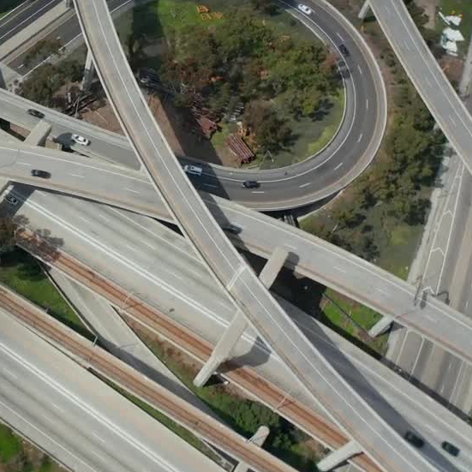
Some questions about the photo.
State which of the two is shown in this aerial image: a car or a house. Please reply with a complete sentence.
This aerial view contains a car.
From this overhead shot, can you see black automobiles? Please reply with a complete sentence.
Yes, I can see a black automobile in this picture.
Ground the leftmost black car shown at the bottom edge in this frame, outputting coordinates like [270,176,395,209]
[402,429,428,448]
